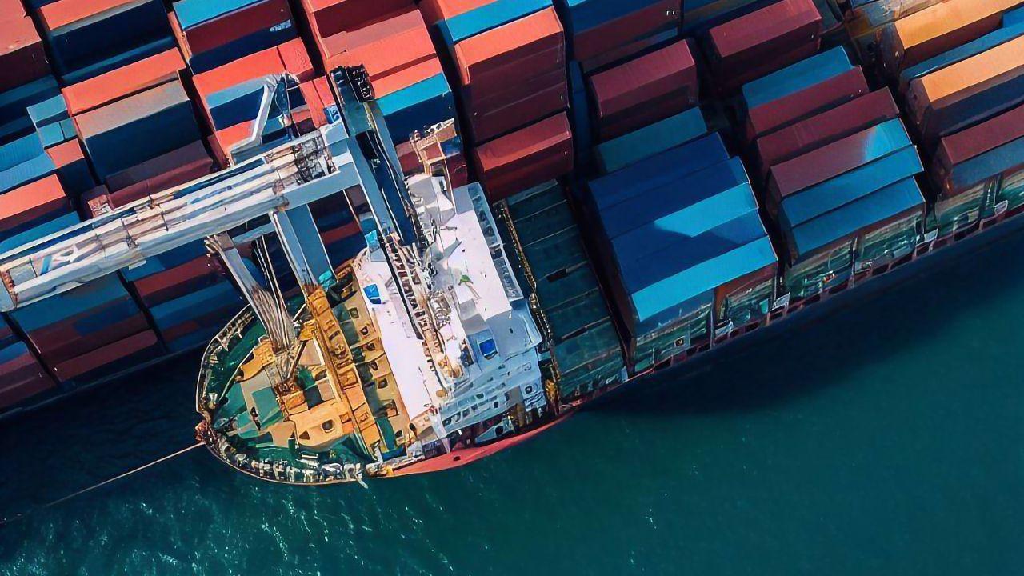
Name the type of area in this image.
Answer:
port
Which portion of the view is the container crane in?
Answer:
left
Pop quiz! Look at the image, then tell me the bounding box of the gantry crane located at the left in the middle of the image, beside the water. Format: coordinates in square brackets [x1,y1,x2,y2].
[0,45,464,472]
